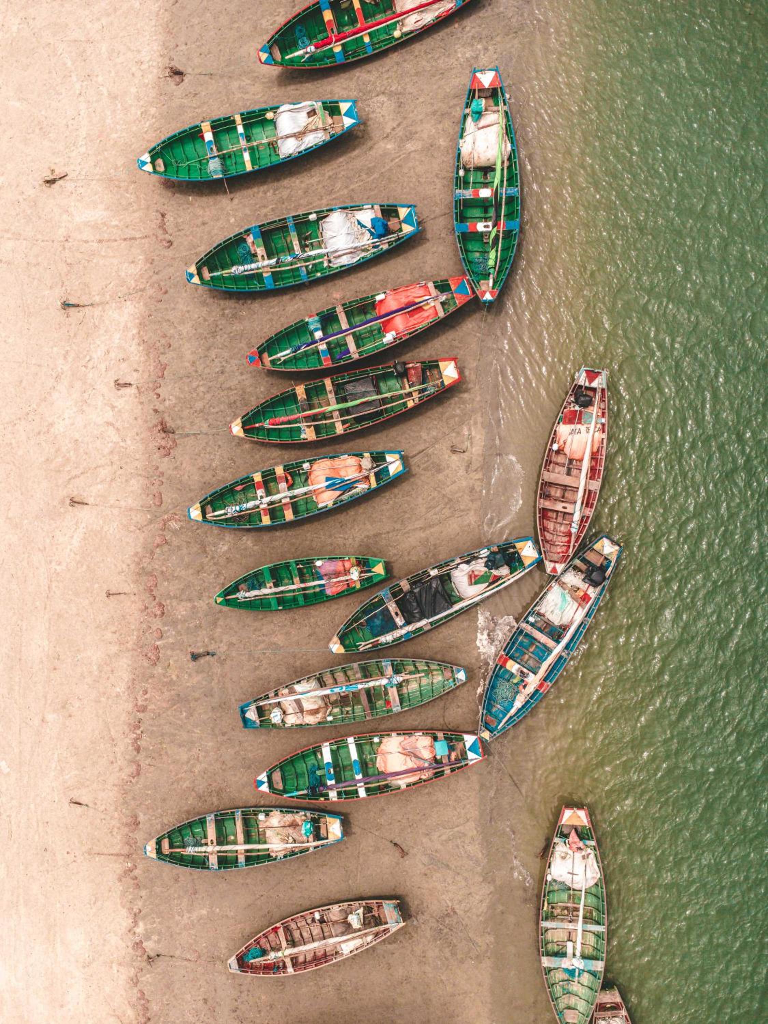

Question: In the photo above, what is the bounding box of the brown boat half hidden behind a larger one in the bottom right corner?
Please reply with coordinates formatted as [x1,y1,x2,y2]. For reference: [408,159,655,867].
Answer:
[590,984,631,1024]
